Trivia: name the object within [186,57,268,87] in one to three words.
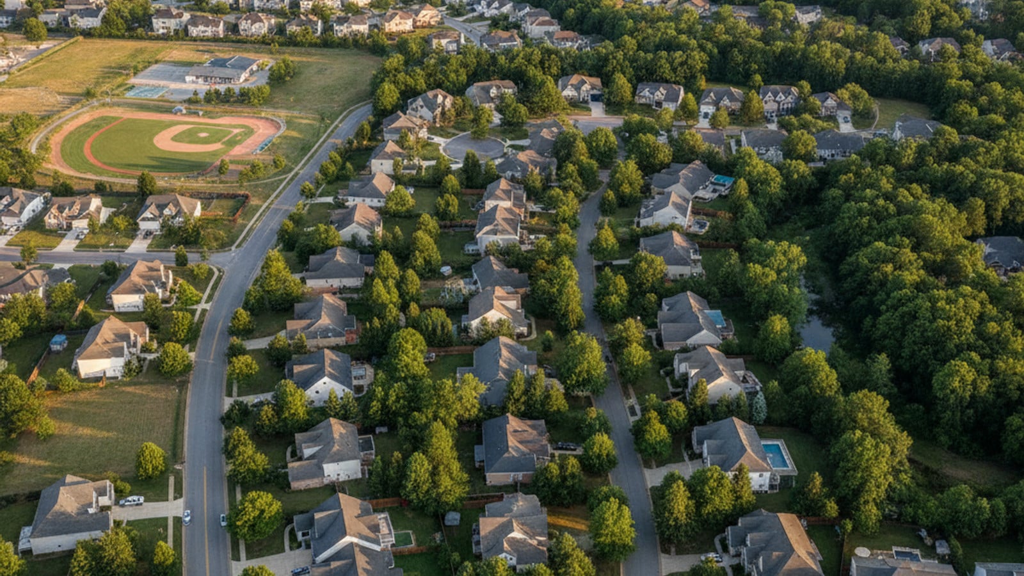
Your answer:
building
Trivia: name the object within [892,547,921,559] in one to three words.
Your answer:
swimming pool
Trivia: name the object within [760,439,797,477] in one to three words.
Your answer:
swimming pool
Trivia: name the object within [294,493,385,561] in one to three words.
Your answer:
house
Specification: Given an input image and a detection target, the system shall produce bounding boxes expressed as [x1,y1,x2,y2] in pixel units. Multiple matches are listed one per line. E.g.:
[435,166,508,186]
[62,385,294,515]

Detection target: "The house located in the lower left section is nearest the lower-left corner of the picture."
[31,470,125,549]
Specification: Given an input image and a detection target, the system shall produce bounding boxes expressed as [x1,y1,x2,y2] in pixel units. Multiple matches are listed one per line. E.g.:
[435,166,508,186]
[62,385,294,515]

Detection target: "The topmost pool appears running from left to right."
[710,176,735,189]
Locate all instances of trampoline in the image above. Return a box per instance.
[852,545,872,560]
